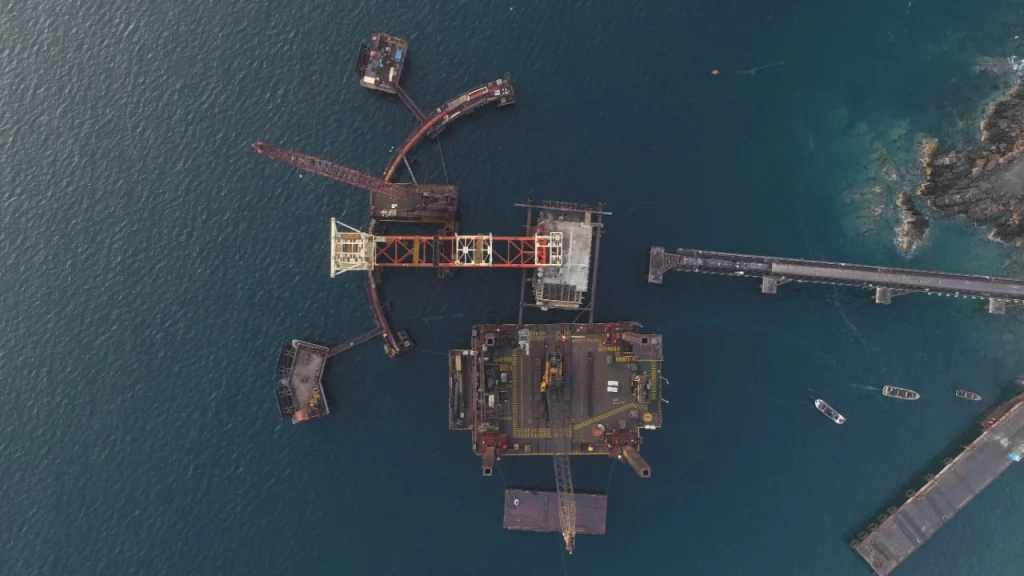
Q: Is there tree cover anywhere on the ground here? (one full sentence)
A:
No, the picture contains no tree cover.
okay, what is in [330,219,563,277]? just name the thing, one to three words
bridge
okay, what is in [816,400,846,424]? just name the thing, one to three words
boat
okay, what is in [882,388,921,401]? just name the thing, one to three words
boat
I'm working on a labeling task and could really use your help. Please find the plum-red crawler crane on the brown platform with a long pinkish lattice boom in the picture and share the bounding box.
[248,142,461,214]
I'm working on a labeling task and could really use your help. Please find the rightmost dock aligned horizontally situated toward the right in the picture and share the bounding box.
[642,247,1024,313]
